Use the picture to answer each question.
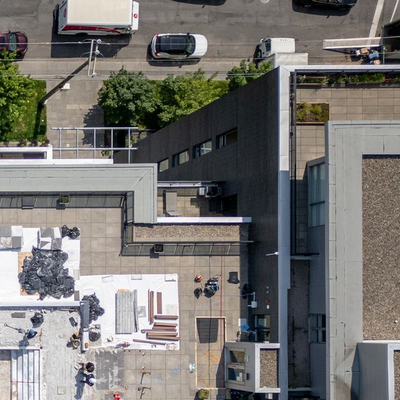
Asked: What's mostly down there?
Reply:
buildings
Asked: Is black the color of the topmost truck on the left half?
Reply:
No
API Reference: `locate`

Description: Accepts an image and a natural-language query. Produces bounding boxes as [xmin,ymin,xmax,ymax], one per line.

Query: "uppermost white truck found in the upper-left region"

[51,0,135,35]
